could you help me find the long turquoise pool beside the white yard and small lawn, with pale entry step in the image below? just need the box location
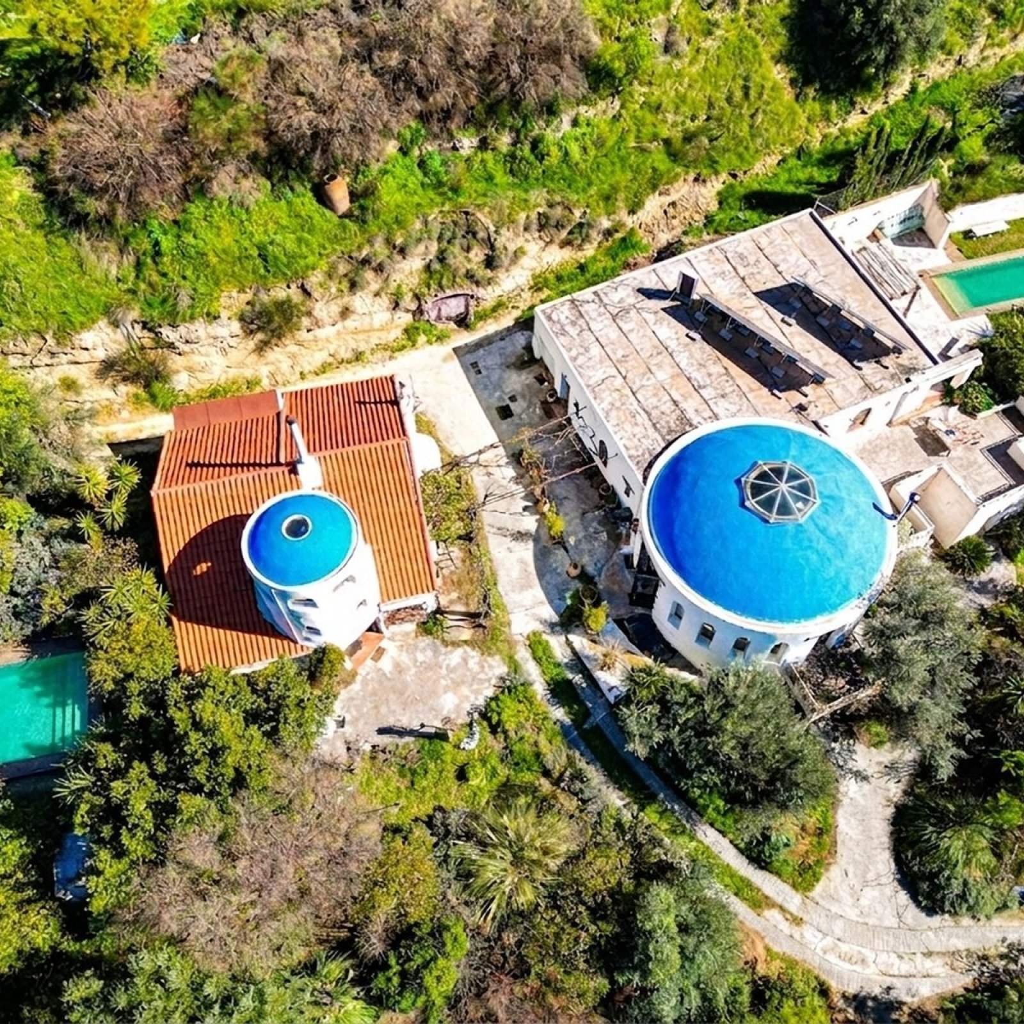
[918,247,1024,323]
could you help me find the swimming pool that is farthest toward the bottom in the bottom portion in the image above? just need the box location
[0,643,100,772]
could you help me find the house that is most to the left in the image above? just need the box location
[149,364,446,699]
